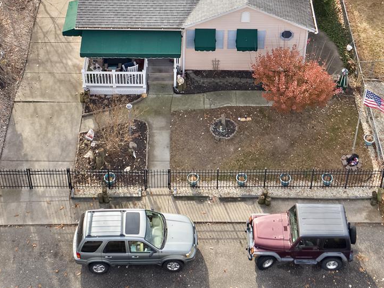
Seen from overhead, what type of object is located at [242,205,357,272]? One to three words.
vehicle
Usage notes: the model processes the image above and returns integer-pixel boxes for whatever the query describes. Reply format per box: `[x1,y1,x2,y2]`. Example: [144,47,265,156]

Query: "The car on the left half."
[70,205,200,275]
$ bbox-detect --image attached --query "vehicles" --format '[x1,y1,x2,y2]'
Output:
[70,205,200,275]
[242,205,357,272]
